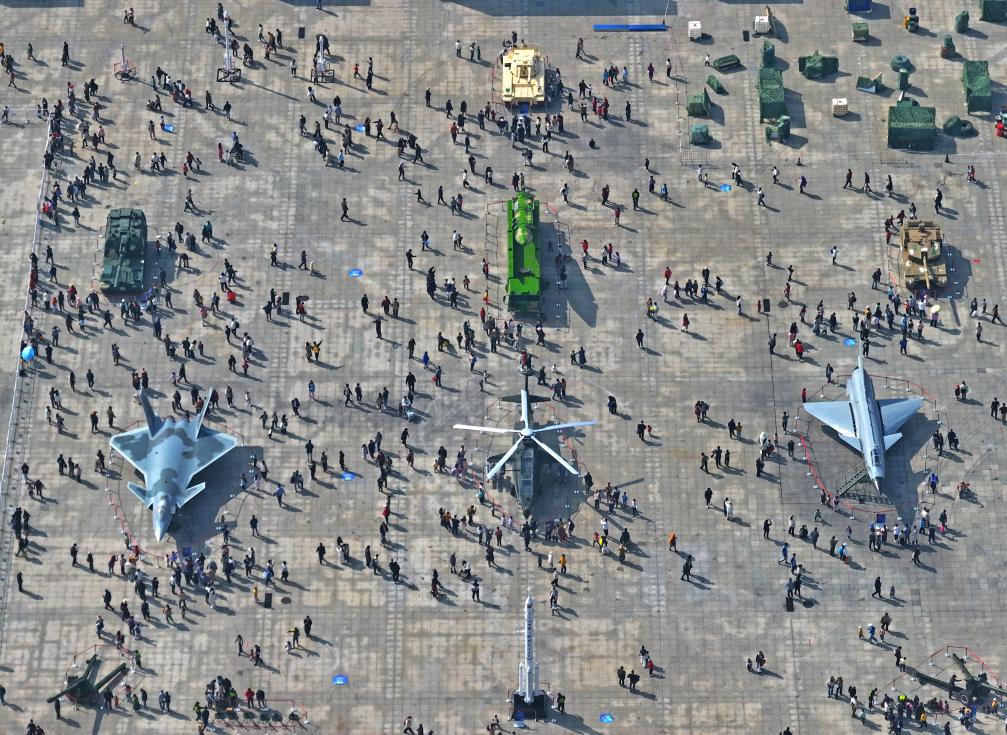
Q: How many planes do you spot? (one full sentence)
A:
There are 2 planes in the image.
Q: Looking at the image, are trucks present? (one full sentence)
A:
Yes, a truck is visible in the scene.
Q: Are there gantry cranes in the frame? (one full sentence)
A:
No, I can't see a single gantry crane in this photo.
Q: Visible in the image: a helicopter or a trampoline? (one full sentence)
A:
Looking from above, you can make out a helicopter.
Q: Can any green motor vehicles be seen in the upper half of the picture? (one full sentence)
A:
Yes, a green motor vehicle is visible in the upper half of the picture.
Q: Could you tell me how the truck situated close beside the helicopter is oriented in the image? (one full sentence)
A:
In this picture, the truck situated close beside the helicopter is oriented from top to bottom.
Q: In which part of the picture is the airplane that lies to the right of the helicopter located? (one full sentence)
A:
The airplane that lies to the right of the helicopter is located in the right region of the scene.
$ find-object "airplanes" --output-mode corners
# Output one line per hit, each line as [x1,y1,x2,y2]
[801,342,922,502]
[112,386,239,542]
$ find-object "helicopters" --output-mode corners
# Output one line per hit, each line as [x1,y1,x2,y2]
[453,361,598,526]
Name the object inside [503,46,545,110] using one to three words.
vehicle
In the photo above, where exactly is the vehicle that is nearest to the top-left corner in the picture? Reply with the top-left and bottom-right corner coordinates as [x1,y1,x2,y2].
[99,208,150,295]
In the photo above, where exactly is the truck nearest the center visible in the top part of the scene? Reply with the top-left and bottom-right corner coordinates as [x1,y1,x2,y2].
[505,185,543,316]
